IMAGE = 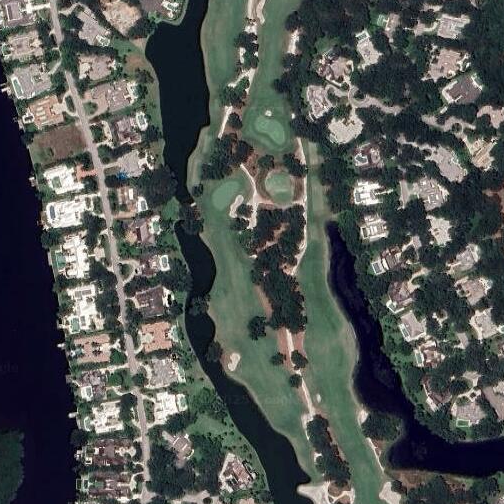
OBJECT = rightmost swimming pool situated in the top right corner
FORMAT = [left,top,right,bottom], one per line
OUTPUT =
[457,50,474,67]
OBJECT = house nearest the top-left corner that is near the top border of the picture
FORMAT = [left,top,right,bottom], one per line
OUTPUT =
[0,0,38,24]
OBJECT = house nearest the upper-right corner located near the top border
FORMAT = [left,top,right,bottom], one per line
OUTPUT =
[437,14,469,38]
